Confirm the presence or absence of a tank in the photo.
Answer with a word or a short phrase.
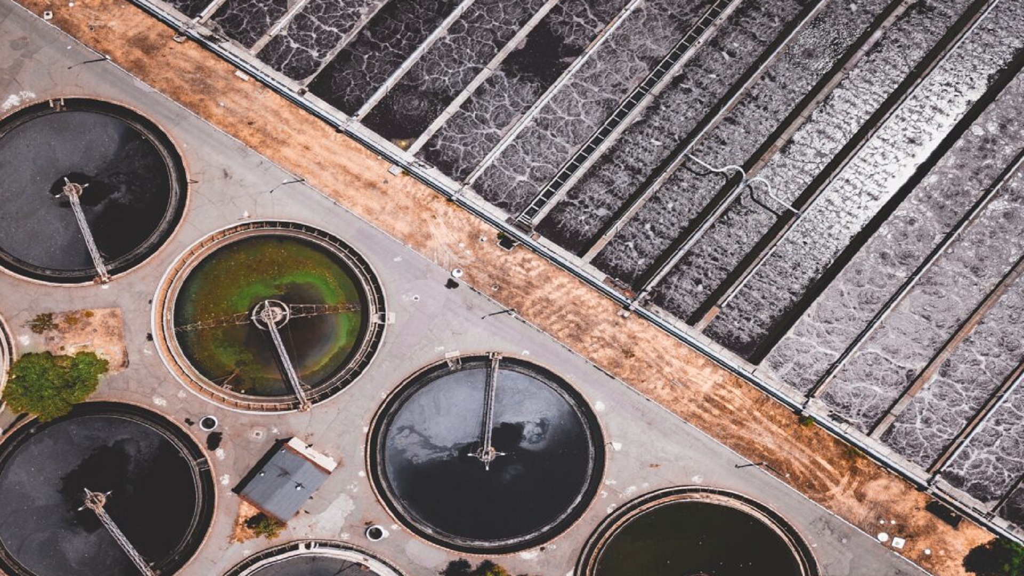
Yes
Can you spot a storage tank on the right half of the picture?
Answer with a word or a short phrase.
Yes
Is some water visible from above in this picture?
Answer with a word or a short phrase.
Yes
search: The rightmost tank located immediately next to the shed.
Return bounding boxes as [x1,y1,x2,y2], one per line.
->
[368,354,606,555]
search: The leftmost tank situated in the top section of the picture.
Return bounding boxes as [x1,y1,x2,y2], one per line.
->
[0,93,189,288]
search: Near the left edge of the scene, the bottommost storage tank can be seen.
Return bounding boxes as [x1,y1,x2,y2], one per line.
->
[0,401,215,576]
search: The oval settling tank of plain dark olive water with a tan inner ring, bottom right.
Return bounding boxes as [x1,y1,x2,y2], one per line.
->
[576,485,819,576]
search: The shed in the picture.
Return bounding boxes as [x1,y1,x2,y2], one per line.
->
[238,433,338,524]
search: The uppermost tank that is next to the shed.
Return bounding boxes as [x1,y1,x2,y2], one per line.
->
[151,218,386,415]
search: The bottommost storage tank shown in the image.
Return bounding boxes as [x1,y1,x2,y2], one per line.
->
[224,540,405,576]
